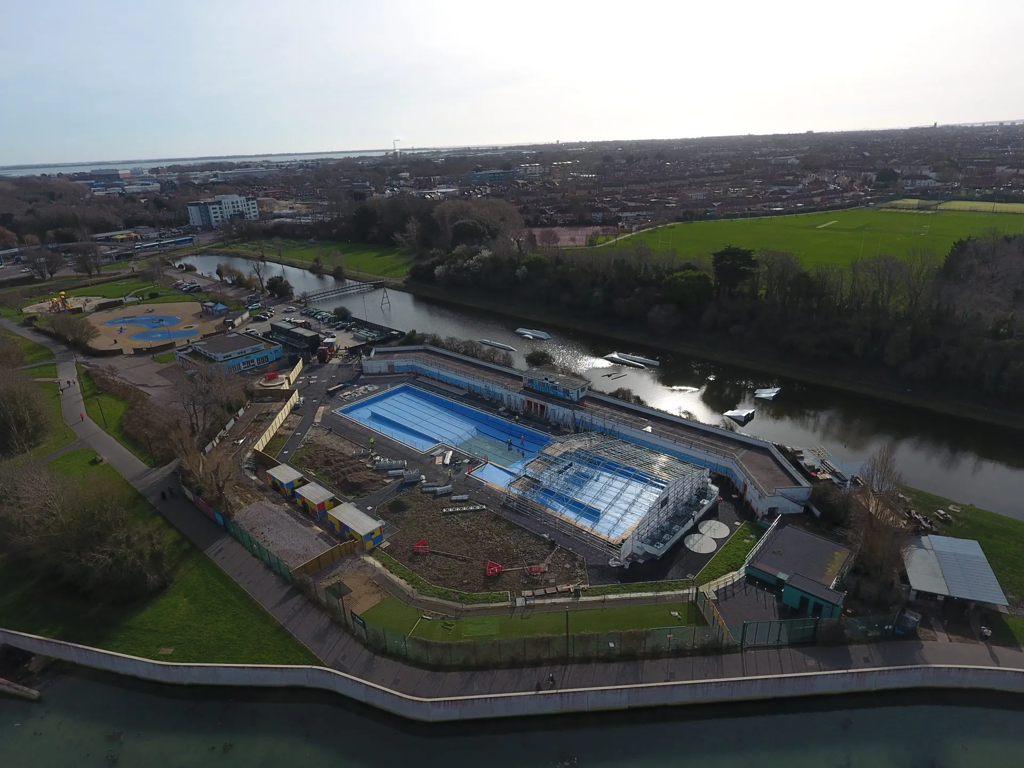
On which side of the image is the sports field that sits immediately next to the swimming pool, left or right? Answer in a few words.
right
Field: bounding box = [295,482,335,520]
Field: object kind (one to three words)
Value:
building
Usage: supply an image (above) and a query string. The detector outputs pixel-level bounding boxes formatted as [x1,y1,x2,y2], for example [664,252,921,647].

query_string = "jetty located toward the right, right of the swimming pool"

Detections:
[798,447,865,489]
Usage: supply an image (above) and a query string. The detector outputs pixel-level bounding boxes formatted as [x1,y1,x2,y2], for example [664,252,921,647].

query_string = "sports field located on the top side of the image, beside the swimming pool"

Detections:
[549,207,1024,308]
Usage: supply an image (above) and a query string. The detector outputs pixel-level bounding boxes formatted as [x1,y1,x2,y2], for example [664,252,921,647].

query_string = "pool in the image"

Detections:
[326,380,678,542]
